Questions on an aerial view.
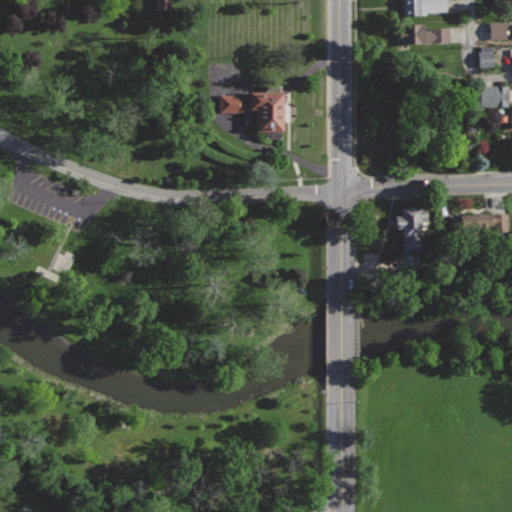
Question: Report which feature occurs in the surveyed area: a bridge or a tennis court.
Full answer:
It is a bridge that can be seen here.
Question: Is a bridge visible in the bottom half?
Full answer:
Yes, there is a bridge in the bottom half.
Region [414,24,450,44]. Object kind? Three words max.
house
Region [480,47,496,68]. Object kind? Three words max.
house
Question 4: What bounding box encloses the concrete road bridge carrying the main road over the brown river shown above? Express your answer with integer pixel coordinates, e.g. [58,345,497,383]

[326,309,361,387]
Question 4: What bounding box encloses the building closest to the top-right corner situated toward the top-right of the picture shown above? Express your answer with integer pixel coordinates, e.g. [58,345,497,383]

[490,22,512,40]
